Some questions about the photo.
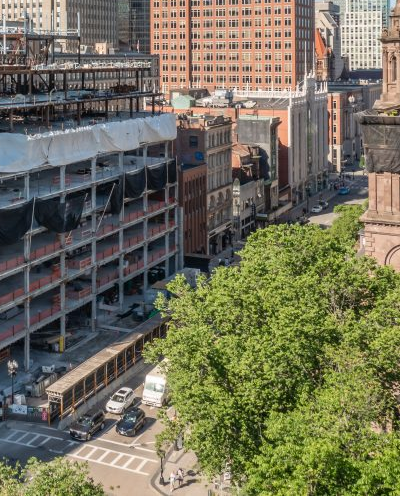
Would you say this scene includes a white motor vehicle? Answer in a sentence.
Yes, the image includes a white motor vehicle.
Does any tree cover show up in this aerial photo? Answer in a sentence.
Yes, tree cover can be seen from above here.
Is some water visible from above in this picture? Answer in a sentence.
No, there's no water in this view.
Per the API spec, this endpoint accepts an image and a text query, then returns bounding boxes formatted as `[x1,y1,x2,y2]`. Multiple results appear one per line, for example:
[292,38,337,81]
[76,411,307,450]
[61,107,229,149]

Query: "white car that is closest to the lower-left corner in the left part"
[103,386,134,413]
